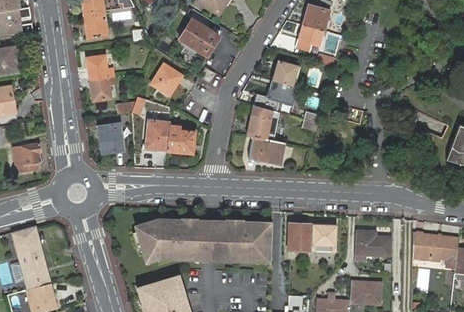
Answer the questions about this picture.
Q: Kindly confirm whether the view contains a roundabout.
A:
Yes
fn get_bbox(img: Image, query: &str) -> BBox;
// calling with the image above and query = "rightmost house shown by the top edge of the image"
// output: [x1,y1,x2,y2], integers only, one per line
[297,4,332,54]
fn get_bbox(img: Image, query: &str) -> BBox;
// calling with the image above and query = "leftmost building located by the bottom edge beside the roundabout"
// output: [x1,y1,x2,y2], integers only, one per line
[11,226,59,312]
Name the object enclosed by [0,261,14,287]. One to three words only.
swimming pool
